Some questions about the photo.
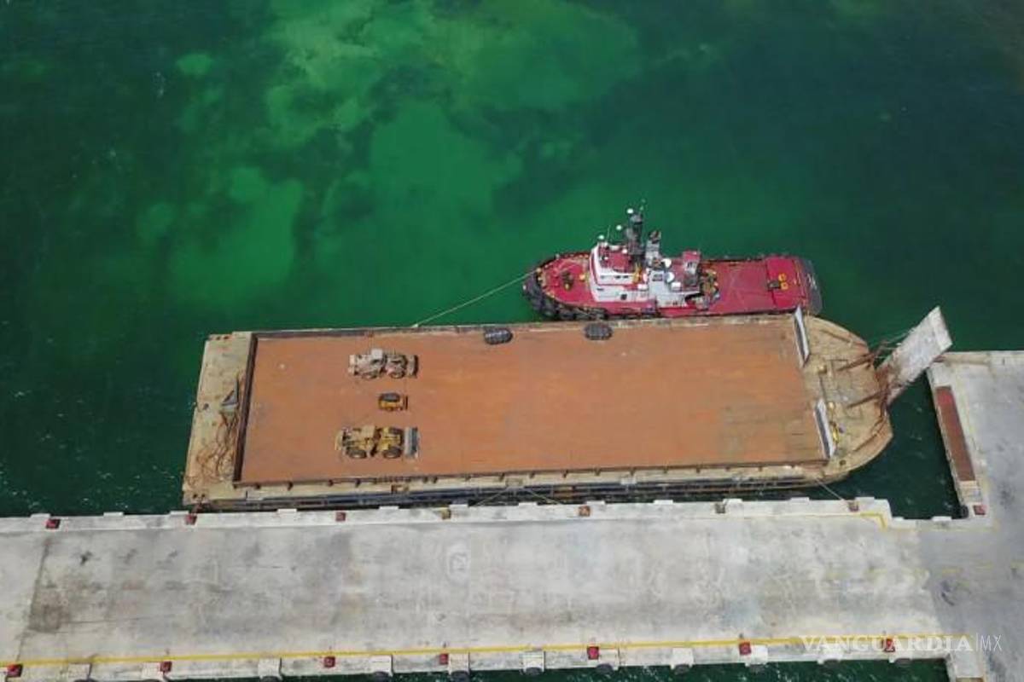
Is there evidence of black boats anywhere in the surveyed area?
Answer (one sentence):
No, the frame has no black boat in it.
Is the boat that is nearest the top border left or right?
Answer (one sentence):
It is on the right.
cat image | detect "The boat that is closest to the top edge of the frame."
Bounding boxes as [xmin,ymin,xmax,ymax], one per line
[515,206,822,322]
